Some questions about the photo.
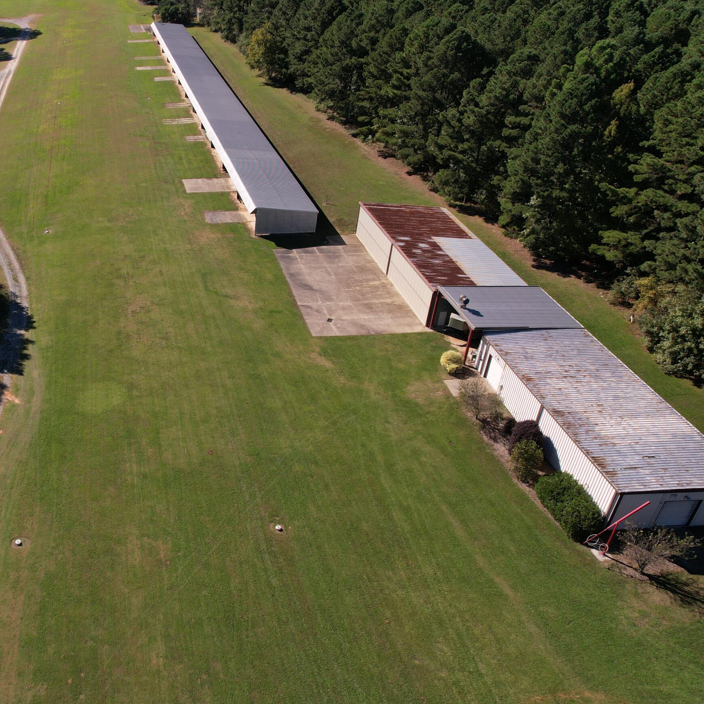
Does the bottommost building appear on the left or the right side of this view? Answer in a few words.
right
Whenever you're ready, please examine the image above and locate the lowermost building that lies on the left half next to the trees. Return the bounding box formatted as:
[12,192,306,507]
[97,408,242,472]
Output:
[151,21,318,234]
